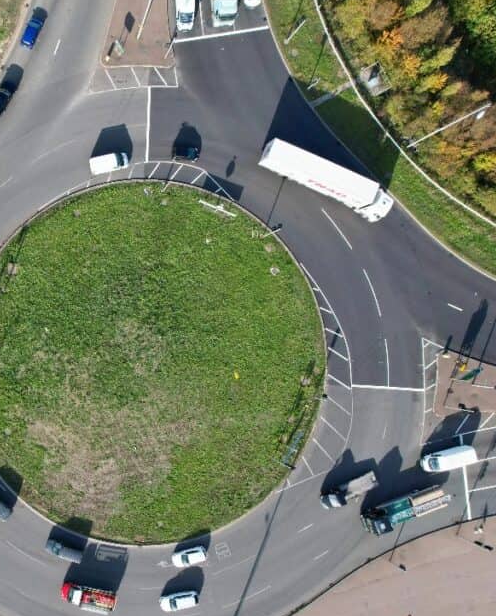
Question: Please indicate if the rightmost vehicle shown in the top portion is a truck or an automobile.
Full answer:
The rightmost vehicle shown in the top portion appears to be a truck.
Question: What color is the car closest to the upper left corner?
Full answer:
In this view, the car closest to the upper left corner is blue.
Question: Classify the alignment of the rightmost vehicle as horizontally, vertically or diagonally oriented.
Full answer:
In this picture, the rightmost vehicle lies horizontally.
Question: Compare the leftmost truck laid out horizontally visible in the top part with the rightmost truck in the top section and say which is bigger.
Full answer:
Compared with the leftmost truck laid out horizontally visible in the top part, the rightmost truck in the top section is the larger one.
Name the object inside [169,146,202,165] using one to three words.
car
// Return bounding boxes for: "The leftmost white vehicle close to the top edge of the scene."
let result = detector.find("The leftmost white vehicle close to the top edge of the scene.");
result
[174,0,196,31]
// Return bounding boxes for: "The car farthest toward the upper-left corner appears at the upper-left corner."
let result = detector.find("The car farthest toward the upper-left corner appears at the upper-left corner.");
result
[21,17,43,50]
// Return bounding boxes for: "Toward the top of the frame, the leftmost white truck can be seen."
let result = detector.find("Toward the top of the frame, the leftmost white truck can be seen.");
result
[88,151,130,177]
